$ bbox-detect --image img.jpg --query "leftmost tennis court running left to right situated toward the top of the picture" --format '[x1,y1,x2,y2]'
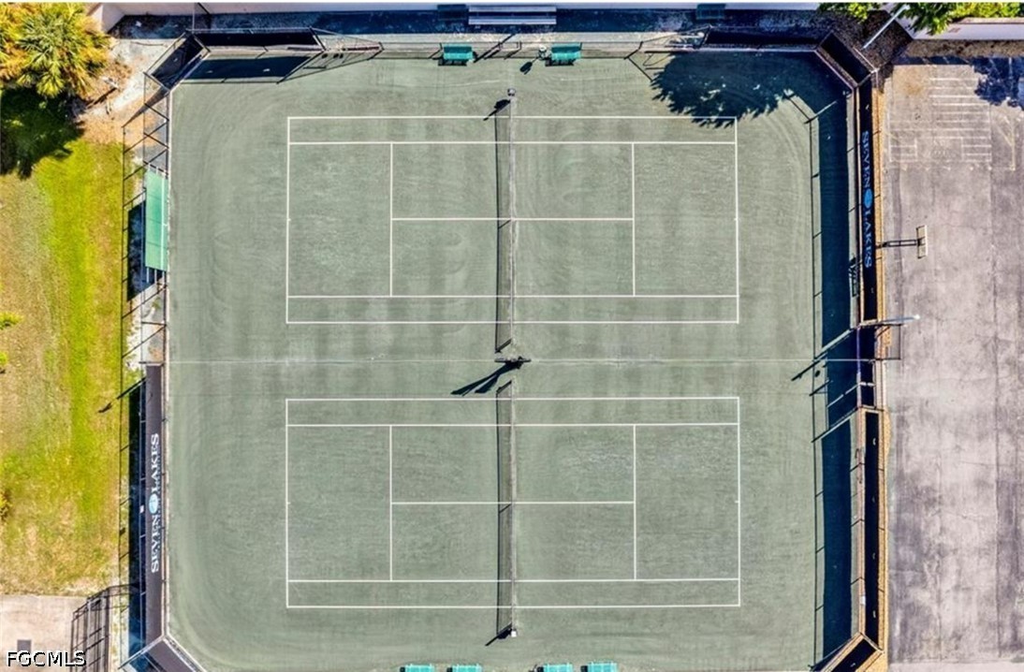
[286,116,739,324]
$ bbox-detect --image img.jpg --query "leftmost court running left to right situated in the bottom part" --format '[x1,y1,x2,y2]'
[286,397,740,608]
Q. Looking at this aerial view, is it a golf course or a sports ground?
sports ground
